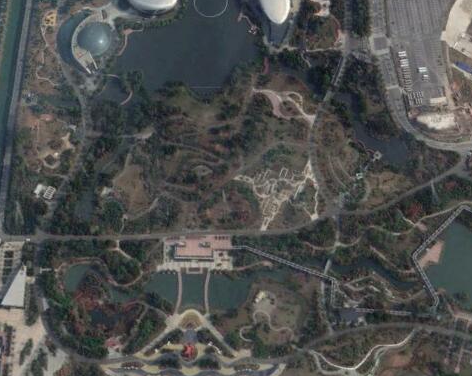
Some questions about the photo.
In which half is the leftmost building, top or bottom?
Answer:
bottom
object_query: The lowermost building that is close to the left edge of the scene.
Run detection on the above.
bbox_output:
[1,265,26,306]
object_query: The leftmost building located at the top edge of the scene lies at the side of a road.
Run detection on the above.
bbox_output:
[60,8,113,74]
